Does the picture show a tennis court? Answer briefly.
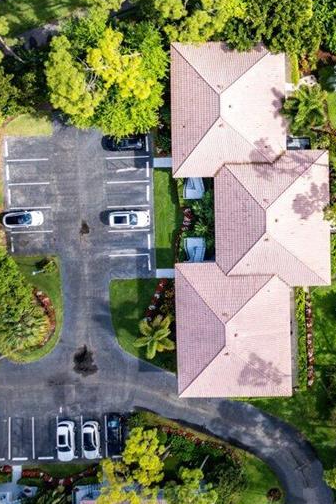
No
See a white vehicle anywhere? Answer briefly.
Yes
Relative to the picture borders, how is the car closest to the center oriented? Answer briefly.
horizontally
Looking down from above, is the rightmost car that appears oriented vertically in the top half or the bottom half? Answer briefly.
bottom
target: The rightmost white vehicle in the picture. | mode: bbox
[109,209,152,229]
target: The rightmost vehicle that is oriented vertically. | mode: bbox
[103,413,124,456]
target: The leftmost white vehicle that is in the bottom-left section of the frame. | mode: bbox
[55,419,78,461]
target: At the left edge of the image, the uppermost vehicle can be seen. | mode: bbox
[3,210,46,229]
